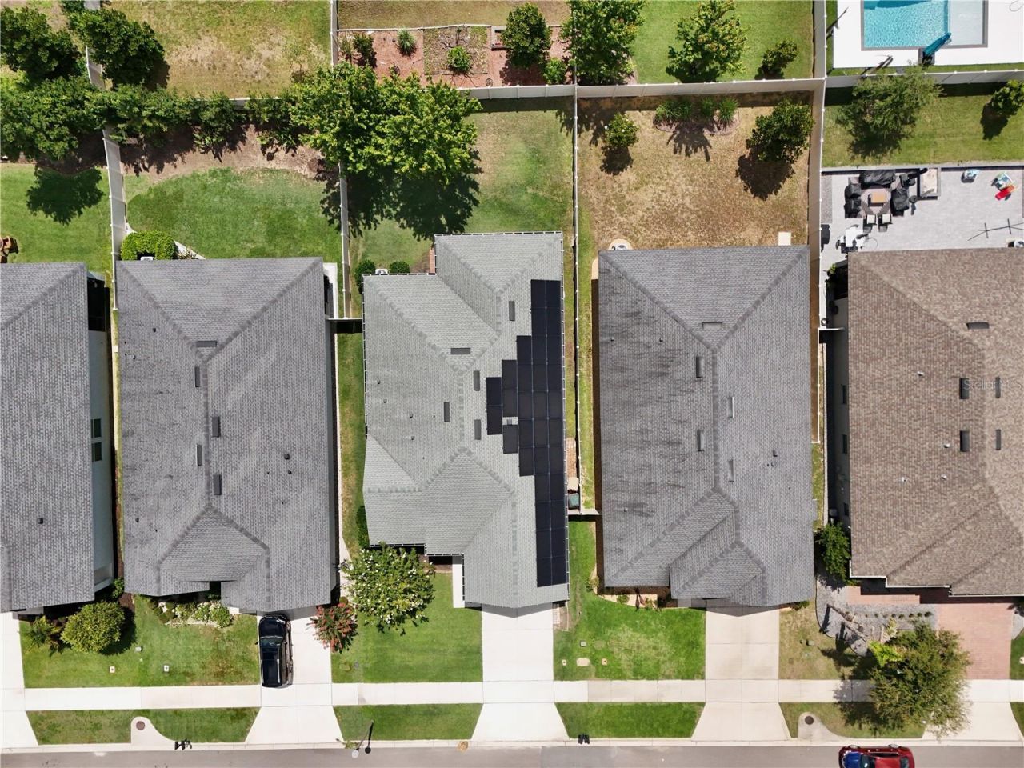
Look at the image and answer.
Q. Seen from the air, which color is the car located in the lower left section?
black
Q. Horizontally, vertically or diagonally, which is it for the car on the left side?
vertically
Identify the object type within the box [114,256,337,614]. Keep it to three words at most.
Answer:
house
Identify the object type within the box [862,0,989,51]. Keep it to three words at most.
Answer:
swimming pool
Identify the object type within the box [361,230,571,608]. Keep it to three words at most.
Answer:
house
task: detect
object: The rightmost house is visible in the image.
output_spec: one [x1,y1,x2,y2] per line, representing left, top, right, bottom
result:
[834,246,1024,598]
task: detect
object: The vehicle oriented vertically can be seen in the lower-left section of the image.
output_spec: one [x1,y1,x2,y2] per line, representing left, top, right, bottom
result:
[255,613,292,687]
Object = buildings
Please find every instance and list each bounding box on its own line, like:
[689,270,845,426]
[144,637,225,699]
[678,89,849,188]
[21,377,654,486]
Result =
[361,230,571,608]
[114,256,337,614]
[834,246,1024,598]
[597,245,817,607]
[0,261,115,614]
